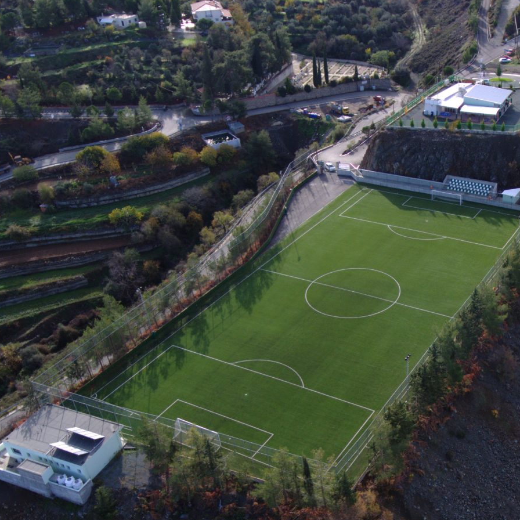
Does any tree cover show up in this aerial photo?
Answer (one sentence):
Yes, there is tree cover in the image.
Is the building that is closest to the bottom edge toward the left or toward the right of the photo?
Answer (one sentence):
You can find the building that is closest to the bottom edge on the left side of the picture.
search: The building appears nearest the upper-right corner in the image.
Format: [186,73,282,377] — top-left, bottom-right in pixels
[423,82,514,127]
